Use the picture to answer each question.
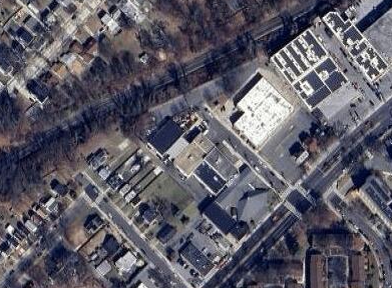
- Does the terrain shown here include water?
No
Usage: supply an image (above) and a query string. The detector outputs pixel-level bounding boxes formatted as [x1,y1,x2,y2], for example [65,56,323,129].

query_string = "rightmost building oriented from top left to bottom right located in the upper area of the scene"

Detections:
[323,11,388,84]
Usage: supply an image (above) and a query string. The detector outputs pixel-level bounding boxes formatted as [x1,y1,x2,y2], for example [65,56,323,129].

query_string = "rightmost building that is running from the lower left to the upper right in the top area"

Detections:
[314,84,364,119]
